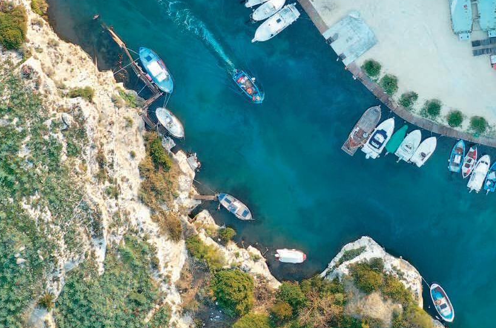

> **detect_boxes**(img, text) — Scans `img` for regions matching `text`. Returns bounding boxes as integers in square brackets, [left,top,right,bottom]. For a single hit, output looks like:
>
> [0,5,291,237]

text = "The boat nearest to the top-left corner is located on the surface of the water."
[132,49,173,106]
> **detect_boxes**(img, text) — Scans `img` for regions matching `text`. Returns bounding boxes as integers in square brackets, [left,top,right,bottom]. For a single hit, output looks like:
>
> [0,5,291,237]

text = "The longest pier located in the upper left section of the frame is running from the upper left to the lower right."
[98,20,164,92]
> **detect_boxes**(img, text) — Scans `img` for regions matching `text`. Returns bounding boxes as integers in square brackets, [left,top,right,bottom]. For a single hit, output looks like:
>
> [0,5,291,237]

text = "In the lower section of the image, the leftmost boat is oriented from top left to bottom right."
[218,193,252,220]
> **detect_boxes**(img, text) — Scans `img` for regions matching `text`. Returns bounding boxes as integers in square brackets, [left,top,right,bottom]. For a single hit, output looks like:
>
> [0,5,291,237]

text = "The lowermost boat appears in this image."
[422,277,454,322]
